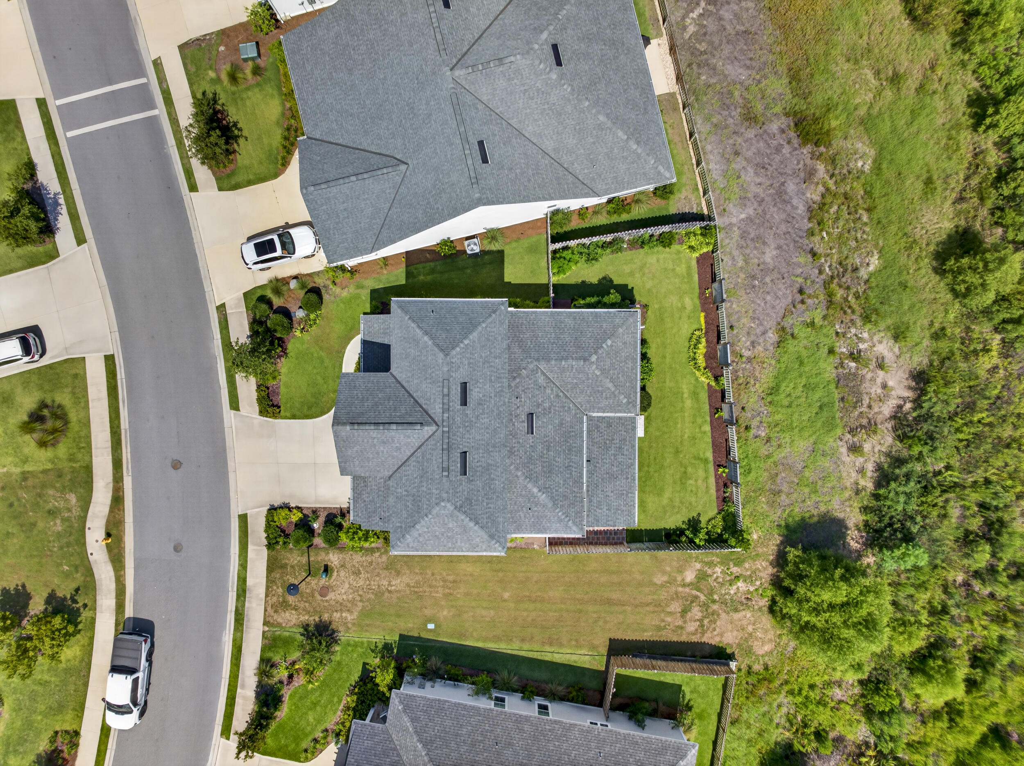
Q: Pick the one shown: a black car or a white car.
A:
white car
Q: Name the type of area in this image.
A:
residential area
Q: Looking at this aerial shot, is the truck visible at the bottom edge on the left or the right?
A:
left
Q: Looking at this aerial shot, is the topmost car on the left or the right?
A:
left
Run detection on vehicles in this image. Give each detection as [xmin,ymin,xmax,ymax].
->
[237,224,320,273]
[101,631,155,731]
[0,331,46,369]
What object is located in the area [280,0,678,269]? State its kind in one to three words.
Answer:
house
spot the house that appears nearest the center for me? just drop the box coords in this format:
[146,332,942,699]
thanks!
[334,296,643,556]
